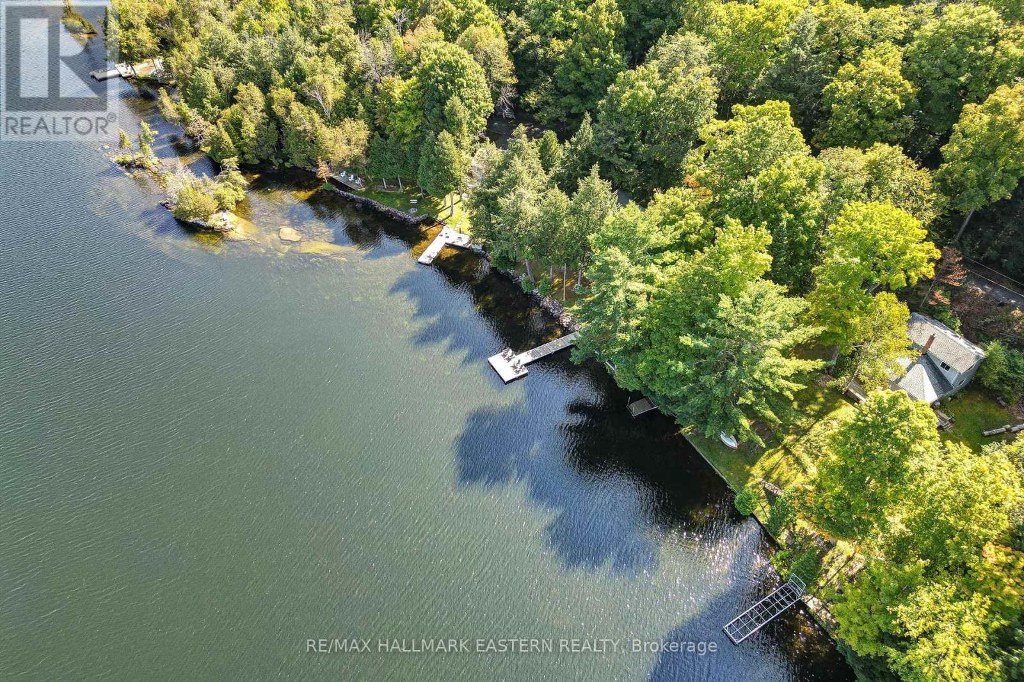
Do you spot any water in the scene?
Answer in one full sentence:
Yes, there is water in the image.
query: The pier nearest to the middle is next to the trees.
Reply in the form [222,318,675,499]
[489,330,592,385]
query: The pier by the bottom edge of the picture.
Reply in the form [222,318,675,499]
[723,571,813,648]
